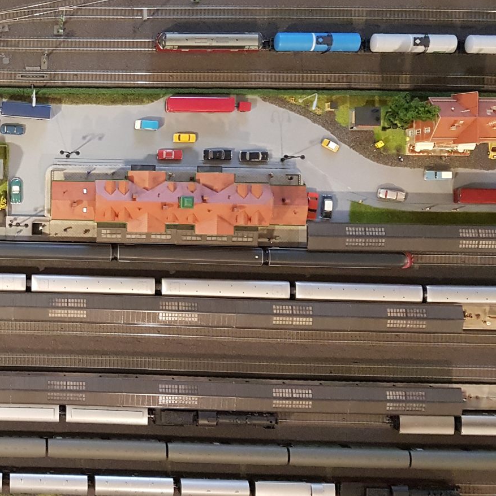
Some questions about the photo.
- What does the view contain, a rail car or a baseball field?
rail car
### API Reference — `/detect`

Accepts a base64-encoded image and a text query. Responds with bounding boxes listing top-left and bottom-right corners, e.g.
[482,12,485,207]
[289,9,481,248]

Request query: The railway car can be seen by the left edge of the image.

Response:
[0,241,114,261]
